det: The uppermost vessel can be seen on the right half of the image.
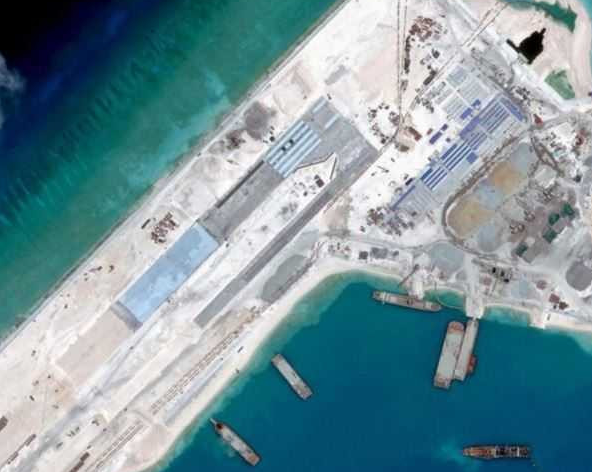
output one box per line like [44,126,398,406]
[372,292,443,310]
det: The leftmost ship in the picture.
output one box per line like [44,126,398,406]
[210,418,260,465]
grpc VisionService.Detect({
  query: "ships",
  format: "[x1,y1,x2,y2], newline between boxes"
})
[435,321,463,390]
[210,418,260,465]
[271,354,312,399]
[372,292,443,310]
[462,446,529,457]
[453,320,478,381]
